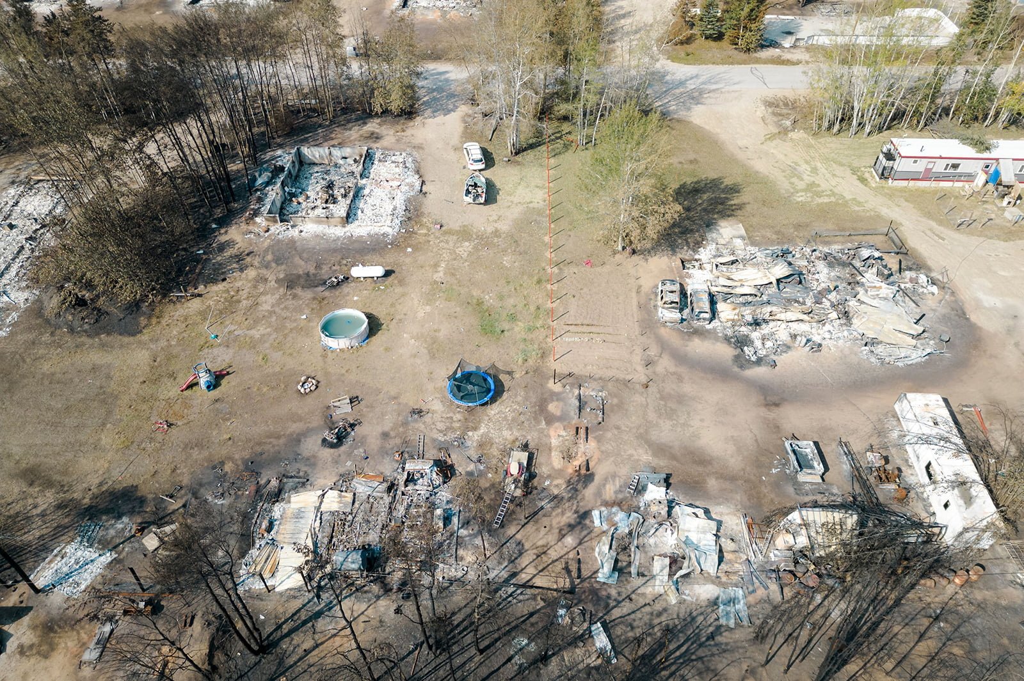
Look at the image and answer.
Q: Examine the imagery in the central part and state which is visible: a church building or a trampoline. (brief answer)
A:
trampoline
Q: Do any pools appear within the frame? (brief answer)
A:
Yes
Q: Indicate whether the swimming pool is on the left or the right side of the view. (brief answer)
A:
left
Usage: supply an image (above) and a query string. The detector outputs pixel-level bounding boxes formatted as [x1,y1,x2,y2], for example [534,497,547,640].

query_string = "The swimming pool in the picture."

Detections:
[318,308,371,350]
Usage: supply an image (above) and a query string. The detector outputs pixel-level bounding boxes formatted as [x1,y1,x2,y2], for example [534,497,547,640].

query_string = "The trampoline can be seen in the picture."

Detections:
[446,358,514,411]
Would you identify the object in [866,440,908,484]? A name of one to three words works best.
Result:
work vehicle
